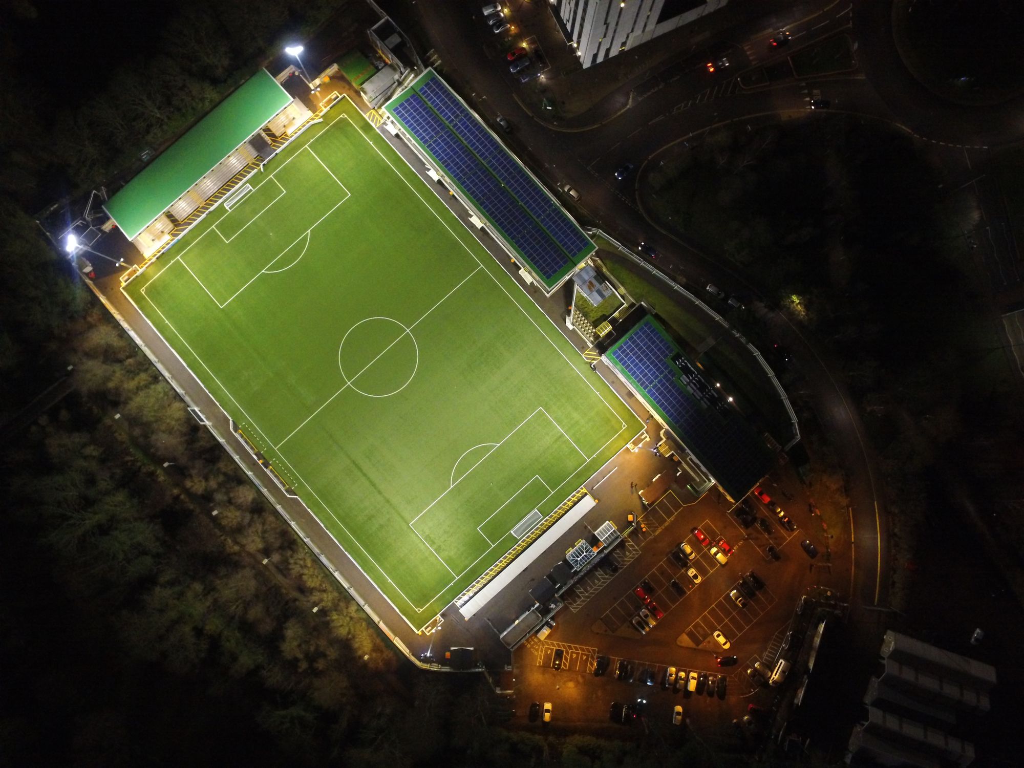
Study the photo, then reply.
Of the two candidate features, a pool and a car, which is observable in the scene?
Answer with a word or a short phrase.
car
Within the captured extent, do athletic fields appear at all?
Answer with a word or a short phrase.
Yes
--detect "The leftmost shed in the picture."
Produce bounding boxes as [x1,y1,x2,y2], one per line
[361,65,400,107]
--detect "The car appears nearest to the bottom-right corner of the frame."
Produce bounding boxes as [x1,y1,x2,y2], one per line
[969,628,981,645]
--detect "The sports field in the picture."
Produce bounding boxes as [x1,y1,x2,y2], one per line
[123,97,645,631]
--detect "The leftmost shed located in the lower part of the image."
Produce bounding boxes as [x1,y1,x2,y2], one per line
[450,646,475,669]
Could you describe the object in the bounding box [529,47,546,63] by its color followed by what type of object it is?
black car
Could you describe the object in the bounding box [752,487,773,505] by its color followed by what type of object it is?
red car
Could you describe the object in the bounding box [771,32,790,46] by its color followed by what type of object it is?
black car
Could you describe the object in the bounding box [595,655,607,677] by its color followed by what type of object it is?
black vehicle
